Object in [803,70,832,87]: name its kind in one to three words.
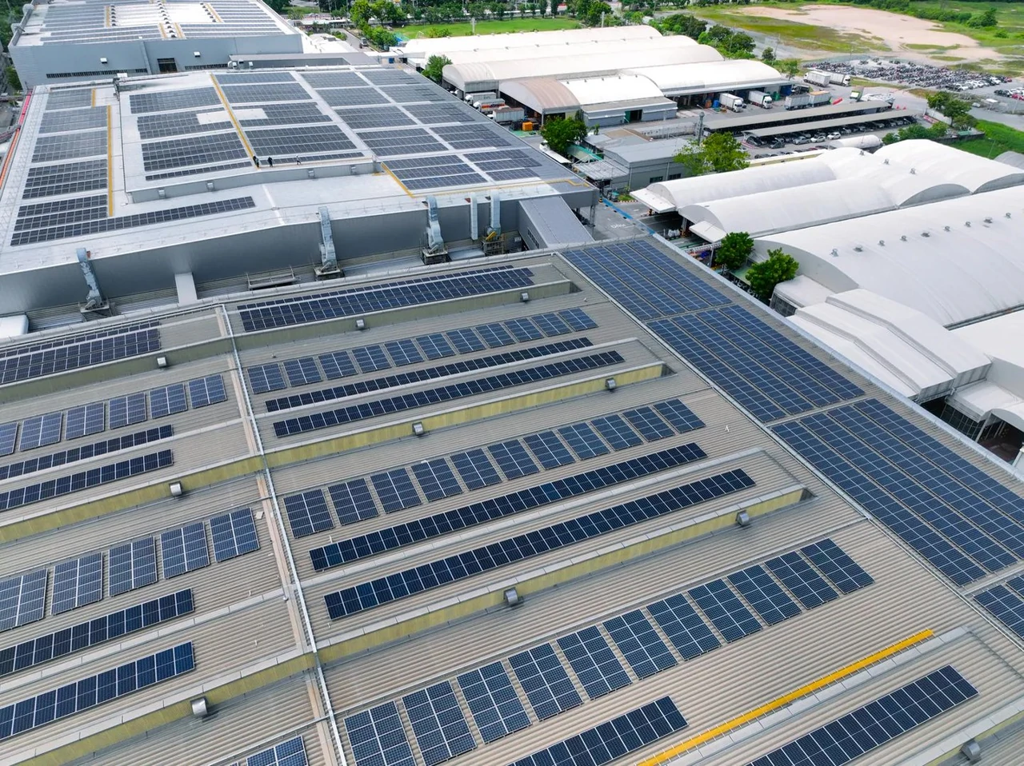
vehicle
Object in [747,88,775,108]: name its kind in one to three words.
vehicle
